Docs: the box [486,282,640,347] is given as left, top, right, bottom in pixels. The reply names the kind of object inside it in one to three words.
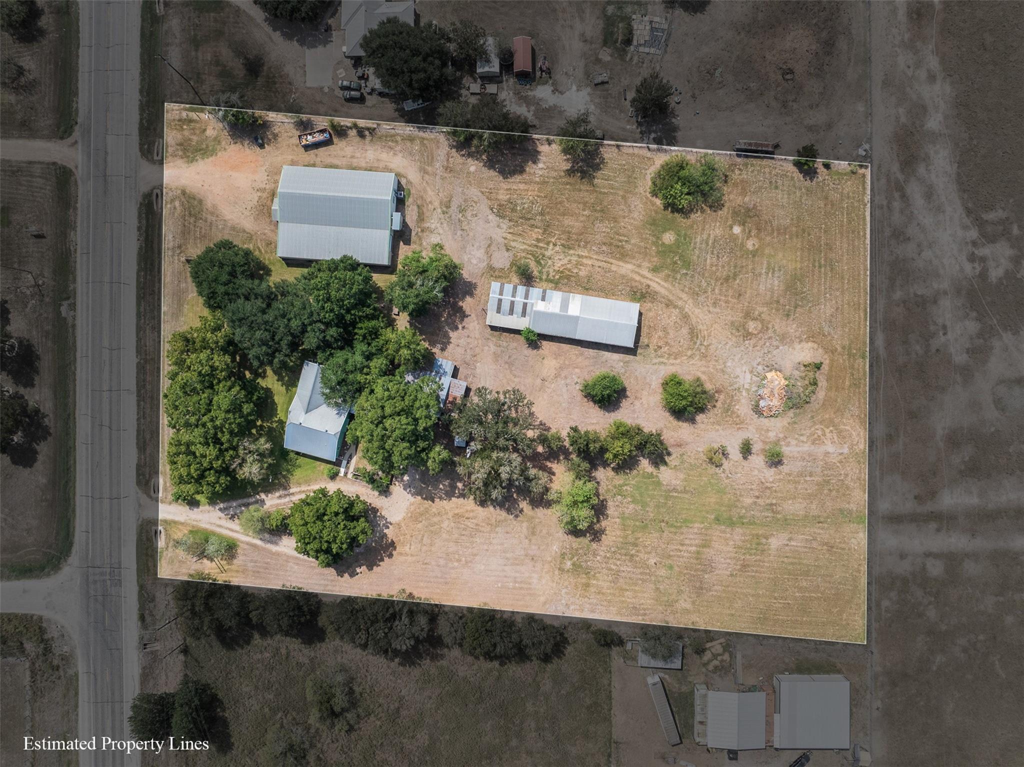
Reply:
shed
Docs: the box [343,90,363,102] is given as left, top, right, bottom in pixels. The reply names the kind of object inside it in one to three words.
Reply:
vehicle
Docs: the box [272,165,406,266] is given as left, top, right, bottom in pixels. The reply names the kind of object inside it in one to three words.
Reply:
barn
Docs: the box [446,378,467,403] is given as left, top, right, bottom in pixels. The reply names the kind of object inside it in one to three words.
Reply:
shed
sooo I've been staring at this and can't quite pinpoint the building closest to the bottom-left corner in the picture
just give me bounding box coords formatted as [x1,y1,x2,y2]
[284,360,361,462]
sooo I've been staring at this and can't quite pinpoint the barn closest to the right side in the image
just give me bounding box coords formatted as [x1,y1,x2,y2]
[772,672,851,749]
